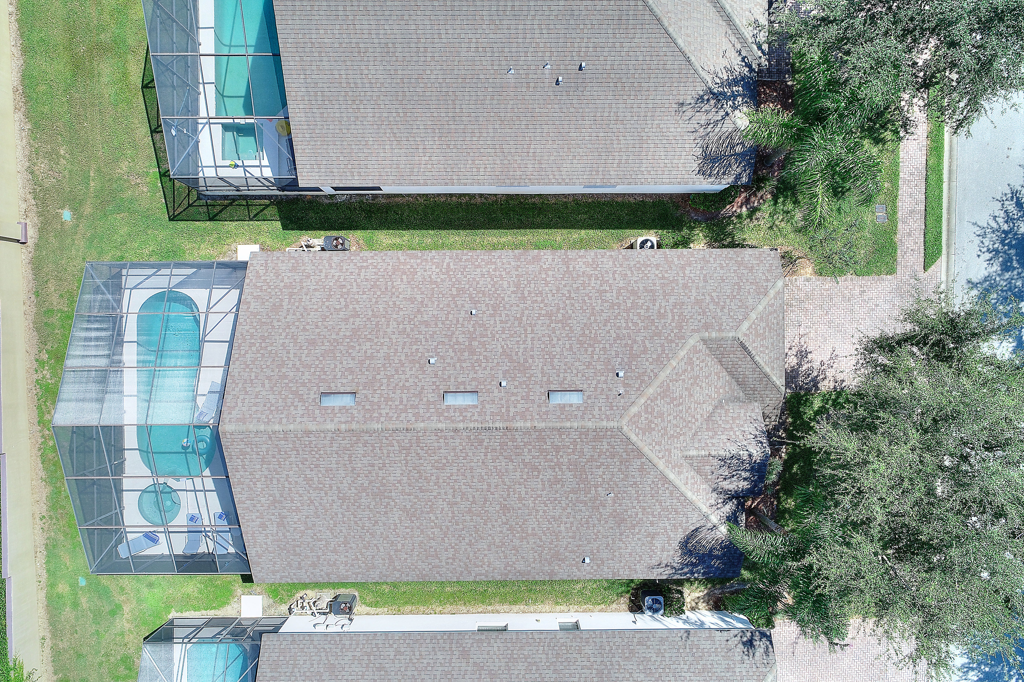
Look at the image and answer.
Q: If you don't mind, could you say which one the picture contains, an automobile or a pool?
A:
pool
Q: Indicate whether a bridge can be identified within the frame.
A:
No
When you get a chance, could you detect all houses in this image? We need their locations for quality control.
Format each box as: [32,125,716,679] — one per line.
[272,0,769,194]
[256,611,780,682]
[218,247,787,583]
